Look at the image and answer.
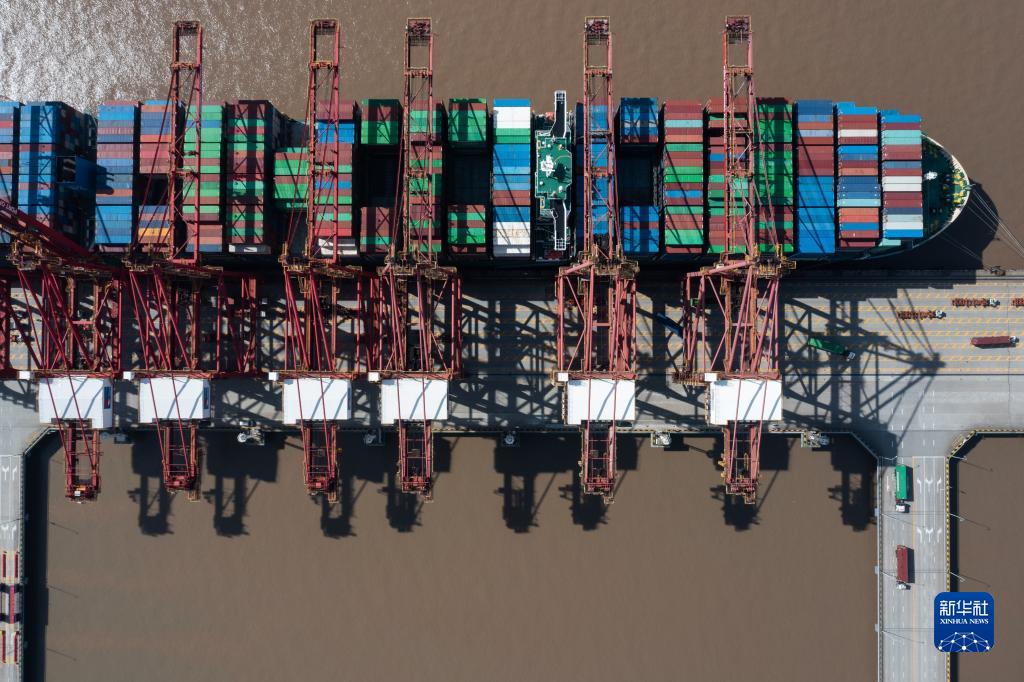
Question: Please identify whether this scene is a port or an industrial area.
port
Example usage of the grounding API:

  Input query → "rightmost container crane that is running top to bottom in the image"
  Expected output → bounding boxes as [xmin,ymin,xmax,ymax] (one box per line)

[655,16,800,507]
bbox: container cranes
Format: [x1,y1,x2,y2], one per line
[265,22,389,506]
[118,22,285,506]
[0,261,104,379]
[537,16,643,507]
[0,189,185,507]
[367,16,480,507]
[655,16,800,507]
